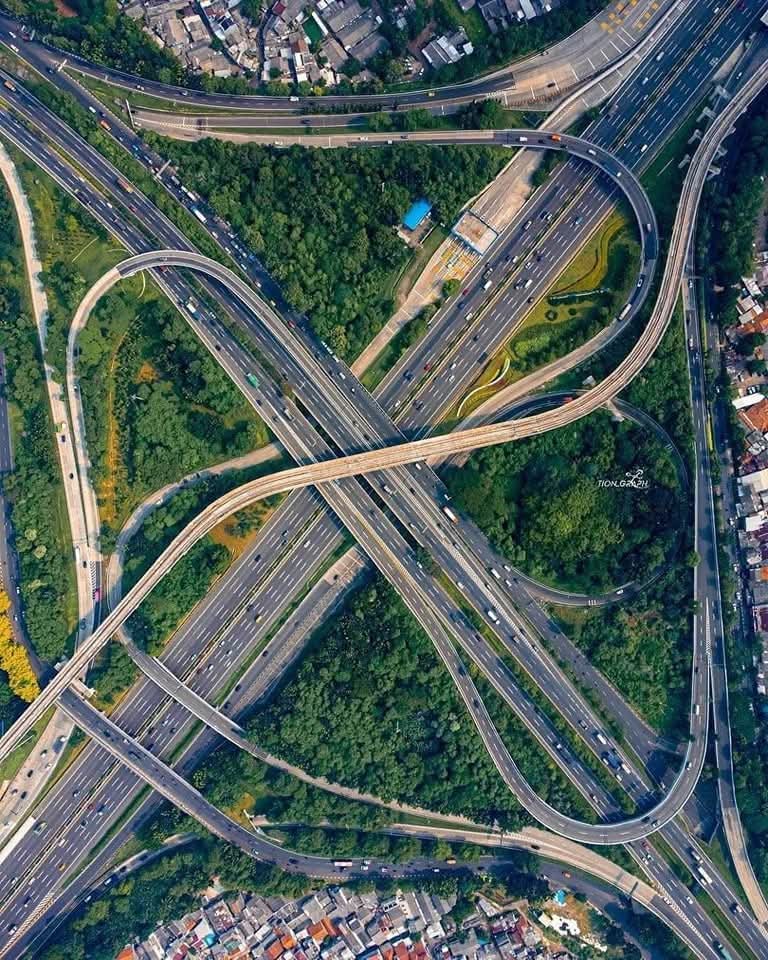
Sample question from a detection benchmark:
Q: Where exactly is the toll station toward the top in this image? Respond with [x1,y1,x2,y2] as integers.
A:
[442,201,505,270]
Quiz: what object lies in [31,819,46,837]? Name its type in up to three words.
vehicle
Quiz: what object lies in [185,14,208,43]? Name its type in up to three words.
house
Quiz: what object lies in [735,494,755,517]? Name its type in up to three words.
house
